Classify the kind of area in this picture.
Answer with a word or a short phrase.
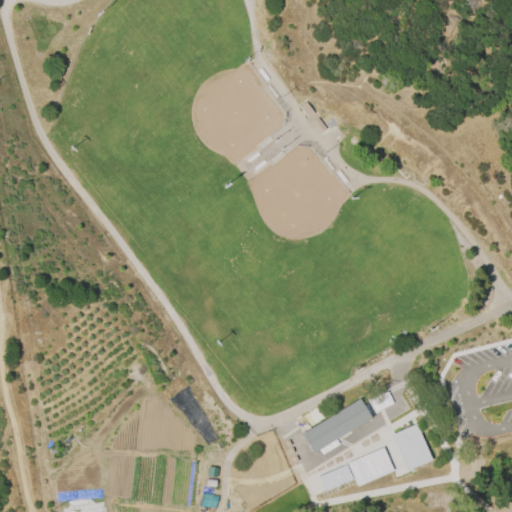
sports ground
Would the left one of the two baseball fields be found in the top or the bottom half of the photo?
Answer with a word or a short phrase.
top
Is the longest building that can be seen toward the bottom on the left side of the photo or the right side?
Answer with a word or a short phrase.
right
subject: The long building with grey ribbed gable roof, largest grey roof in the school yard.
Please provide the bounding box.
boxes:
[305,398,372,452]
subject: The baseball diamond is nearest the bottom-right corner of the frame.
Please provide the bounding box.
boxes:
[128,147,468,414]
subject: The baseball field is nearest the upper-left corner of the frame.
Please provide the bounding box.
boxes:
[49,0,287,240]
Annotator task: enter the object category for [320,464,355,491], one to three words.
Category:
building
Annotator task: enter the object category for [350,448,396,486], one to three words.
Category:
building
